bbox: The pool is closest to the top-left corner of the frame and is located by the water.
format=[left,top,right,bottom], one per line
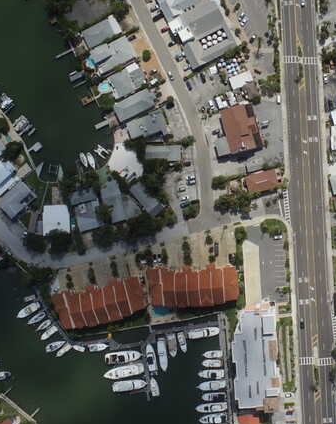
[81,54,99,72]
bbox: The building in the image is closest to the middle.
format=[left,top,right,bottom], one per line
[130,182,163,216]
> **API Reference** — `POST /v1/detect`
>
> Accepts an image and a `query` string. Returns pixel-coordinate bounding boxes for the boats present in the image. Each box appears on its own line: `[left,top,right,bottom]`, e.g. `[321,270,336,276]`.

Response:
[16,301,41,317]
[201,392,224,401]
[195,402,227,412]
[177,332,187,353]
[87,152,96,170]
[1,99,13,109]
[55,343,73,356]
[40,325,58,339]
[166,334,177,357]
[98,145,109,157]
[44,340,65,353]
[150,377,160,396]
[87,343,108,351]
[110,380,147,392]
[156,336,167,372]
[79,152,88,167]
[36,319,52,330]
[13,118,27,130]
[73,344,86,351]
[198,414,225,424]
[104,351,141,364]
[27,311,46,323]
[186,327,219,340]
[103,363,145,379]
[146,343,159,372]
[198,370,222,378]
[203,351,222,358]
[201,359,222,367]
[196,380,226,390]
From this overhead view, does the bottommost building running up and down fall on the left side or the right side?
right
